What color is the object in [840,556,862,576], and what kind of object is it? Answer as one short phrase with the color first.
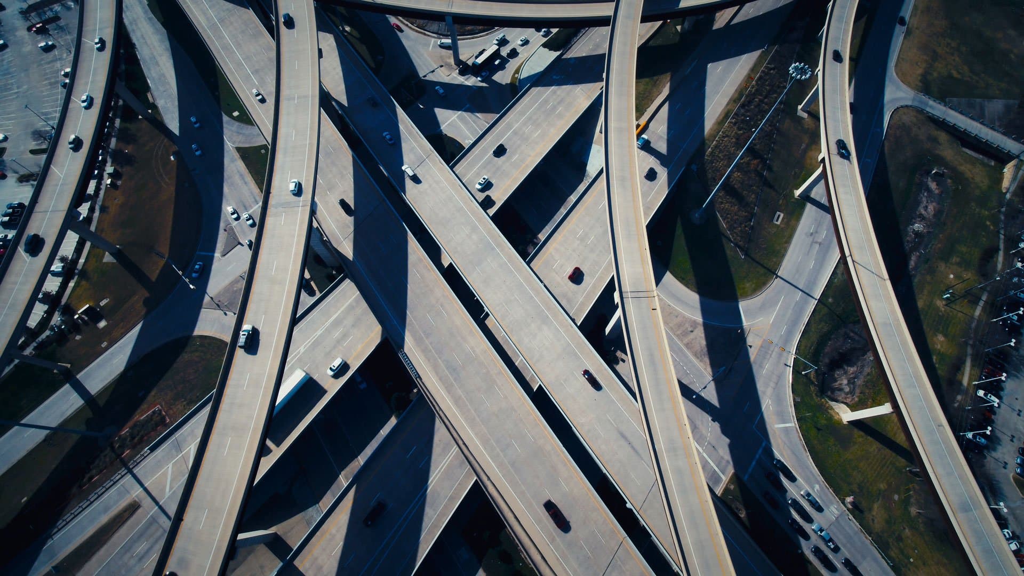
black car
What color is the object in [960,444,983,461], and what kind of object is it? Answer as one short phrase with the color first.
black car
